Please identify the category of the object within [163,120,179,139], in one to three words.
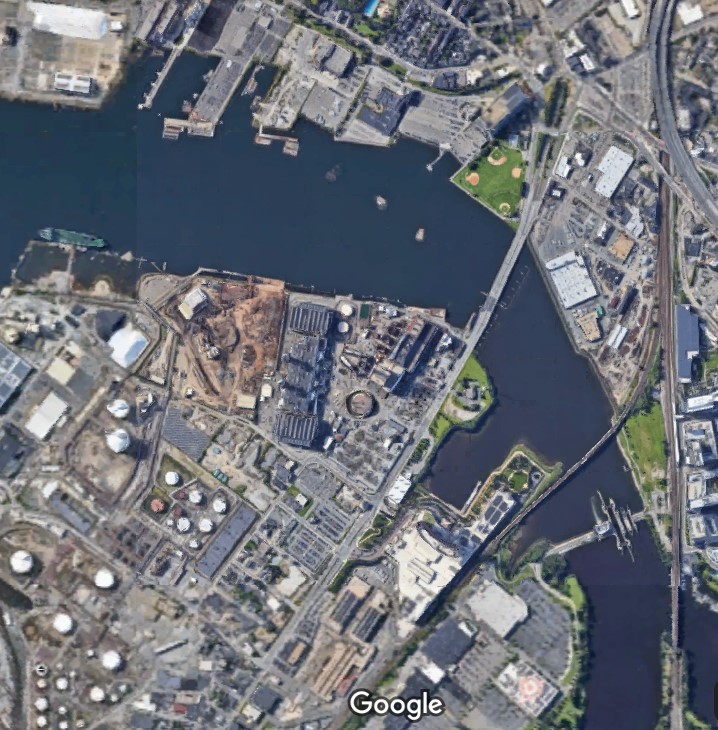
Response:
ship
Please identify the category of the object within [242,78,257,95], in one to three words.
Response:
ship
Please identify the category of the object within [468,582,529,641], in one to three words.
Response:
building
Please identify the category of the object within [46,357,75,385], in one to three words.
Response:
shed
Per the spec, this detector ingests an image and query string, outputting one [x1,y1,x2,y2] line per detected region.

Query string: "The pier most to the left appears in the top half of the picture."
[11,240,86,282]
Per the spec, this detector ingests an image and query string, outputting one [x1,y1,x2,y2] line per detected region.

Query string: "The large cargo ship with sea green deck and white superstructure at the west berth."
[39,229,106,247]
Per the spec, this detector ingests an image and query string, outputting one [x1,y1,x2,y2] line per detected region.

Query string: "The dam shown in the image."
[542,488,651,562]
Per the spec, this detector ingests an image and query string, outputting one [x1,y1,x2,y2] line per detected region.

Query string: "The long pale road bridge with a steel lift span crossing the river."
[463,193,536,350]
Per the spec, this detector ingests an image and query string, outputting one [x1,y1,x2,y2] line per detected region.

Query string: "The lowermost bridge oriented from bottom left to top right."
[498,415,625,538]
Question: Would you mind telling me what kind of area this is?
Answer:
port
